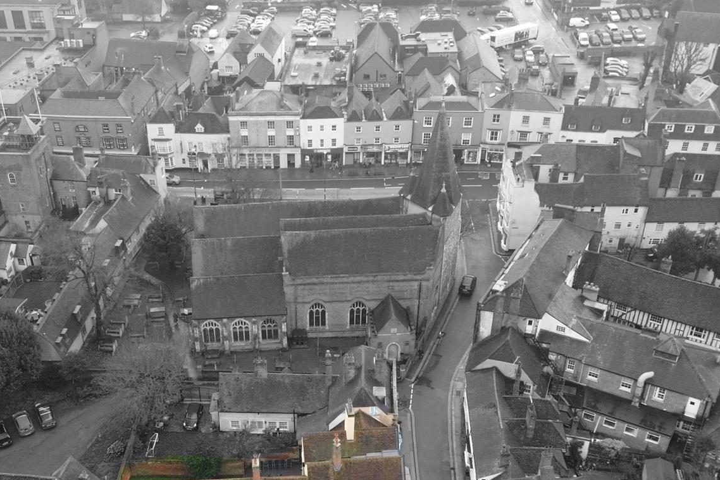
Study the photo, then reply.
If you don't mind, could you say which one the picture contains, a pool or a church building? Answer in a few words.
church building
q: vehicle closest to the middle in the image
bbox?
[455,274,478,296]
